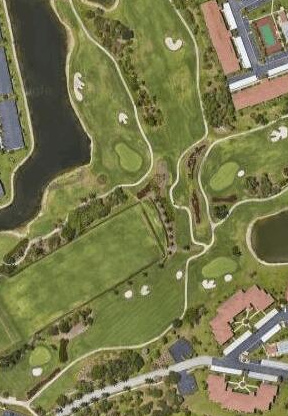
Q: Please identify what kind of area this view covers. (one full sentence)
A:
The area seen from above is a golf course.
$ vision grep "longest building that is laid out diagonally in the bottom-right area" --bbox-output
[211,285,273,344]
